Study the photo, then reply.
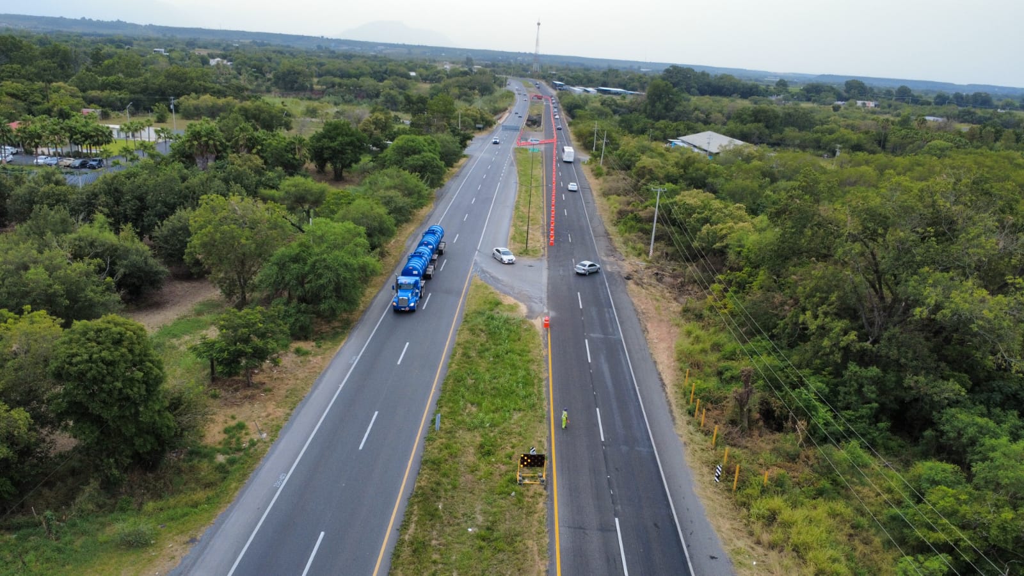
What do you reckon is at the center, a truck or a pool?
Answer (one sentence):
What appears at the center is a truck.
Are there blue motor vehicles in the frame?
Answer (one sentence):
Yes, looking at the shot, I can spot a blue motor vehicle.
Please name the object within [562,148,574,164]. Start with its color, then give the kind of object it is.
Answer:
white vehicle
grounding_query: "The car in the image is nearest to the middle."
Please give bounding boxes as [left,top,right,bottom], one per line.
[494,249,517,265]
